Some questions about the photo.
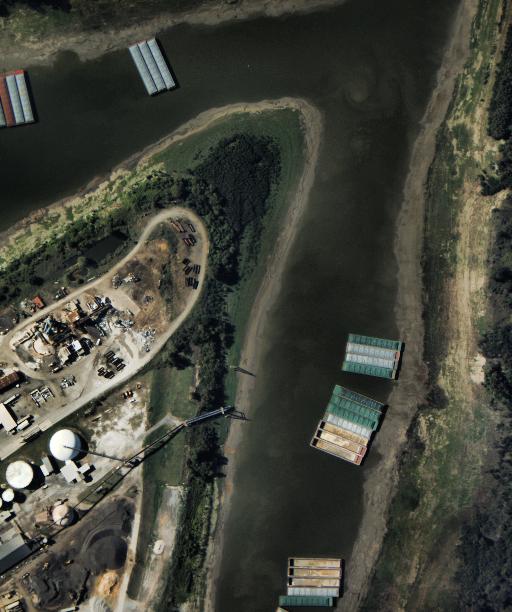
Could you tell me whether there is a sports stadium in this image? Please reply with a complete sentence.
No, there appears to be no sports stadium in this shot.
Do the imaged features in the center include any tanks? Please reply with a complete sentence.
No, no tank can be made out in the center.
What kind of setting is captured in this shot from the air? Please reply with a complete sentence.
This image shows a port.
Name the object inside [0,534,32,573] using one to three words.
shed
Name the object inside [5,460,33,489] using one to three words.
storage tank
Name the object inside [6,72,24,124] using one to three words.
ship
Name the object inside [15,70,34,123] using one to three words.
ship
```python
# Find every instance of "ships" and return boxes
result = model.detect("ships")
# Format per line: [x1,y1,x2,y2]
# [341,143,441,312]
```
[129,43,157,95]
[320,413,373,441]
[0,96,7,127]
[287,577,339,586]
[346,343,400,360]
[287,568,340,577]
[345,353,398,370]
[316,422,368,449]
[147,37,175,89]
[138,40,165,91]
[287,587,339,596]
[280,596,333,605]
[15,70,34,123]
[308,440,360,468]
[288,559,341,568]
[324,404,376,432]
[333,385,385,414]
[312,431,364,459]
[342,362,396,380]
[329,394,381,423]
[0,73,16,126]
[6,72,24,124]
